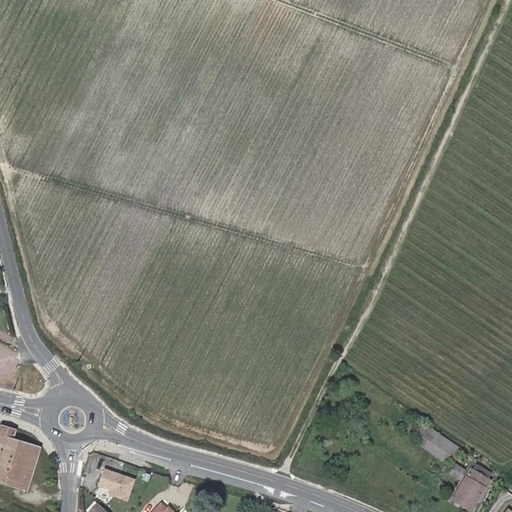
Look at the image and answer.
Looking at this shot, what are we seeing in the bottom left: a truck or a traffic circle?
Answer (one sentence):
There is a traffic circle in the bottom left.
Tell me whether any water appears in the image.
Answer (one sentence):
No, no water is visible.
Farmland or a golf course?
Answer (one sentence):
This image shows farmland.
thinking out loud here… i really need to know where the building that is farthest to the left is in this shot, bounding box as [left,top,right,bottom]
[0,426,42,491]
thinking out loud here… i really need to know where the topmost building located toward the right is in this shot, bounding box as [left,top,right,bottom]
[419,426,460,462]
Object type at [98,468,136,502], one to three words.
house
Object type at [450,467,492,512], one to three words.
house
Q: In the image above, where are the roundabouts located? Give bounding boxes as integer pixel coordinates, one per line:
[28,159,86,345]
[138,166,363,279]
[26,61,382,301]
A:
[36,362,108,455]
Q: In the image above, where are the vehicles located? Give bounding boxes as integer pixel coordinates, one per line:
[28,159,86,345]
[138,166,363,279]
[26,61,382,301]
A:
[89,412,95,423]
[144,503,152,512]
[174,470,180,482]
[51,428,62,436]
[68,451,74,462]
[1,408,12,413]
